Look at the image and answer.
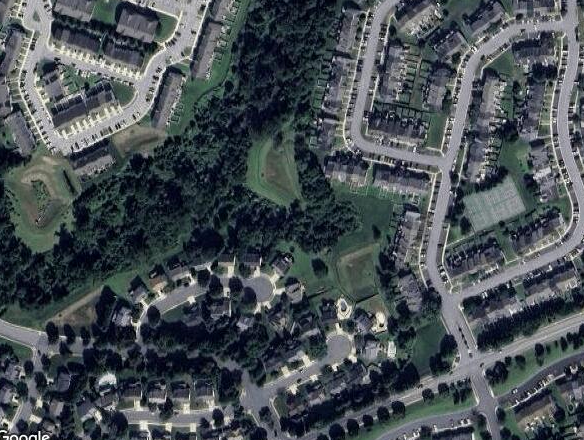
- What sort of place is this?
residential area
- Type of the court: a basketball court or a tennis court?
tennis court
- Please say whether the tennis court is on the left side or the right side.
right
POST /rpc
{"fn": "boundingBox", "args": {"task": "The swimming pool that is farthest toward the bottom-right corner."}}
[373,310,388,332]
